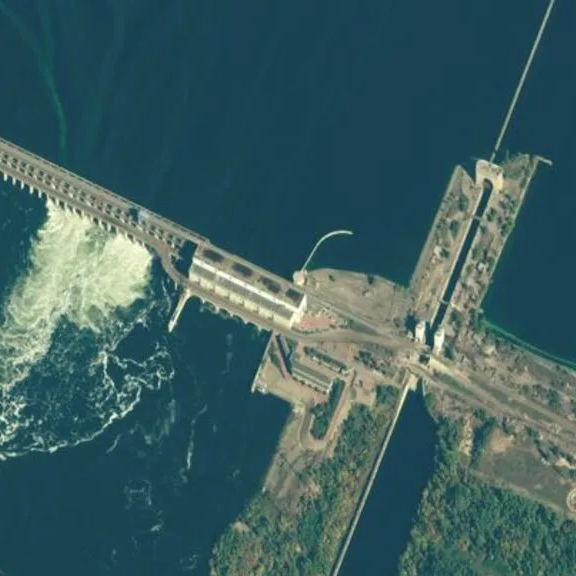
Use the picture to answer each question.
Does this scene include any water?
Yes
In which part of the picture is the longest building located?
center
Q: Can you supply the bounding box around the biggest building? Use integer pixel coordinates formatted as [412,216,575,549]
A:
[180,240,316,343]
